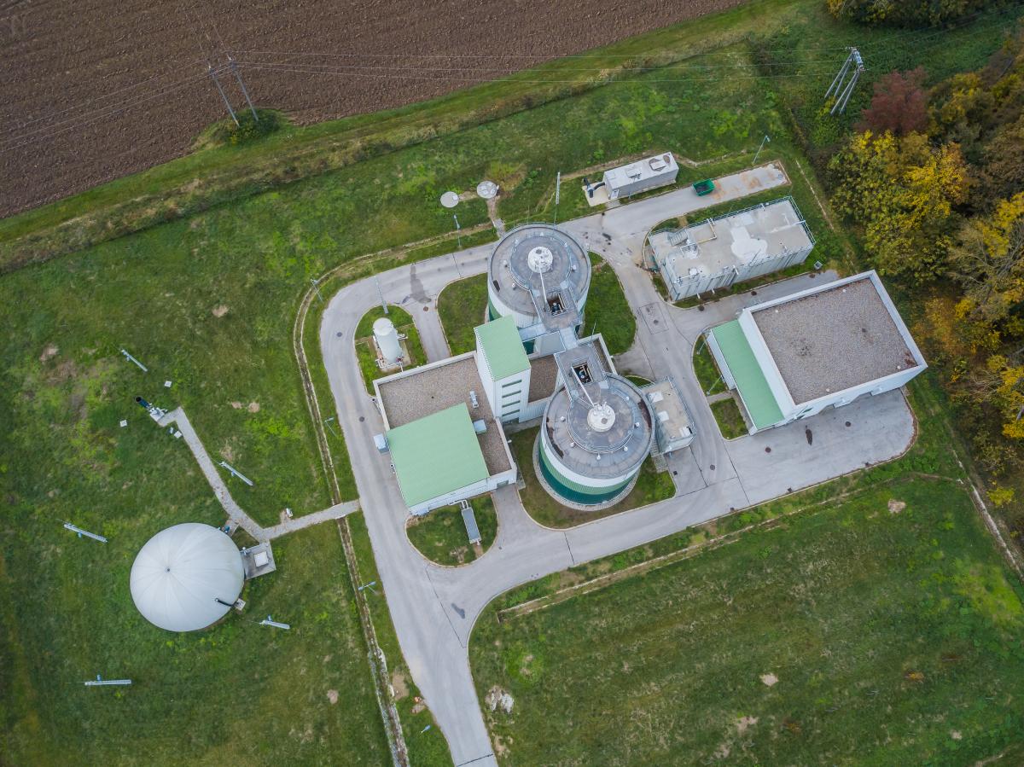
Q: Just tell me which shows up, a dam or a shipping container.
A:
shipping container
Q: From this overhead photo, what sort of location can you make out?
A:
industrial area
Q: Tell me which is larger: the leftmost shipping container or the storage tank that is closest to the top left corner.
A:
the shipping container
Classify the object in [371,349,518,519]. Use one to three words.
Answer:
building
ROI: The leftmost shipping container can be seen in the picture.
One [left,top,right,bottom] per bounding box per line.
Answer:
[601,152,680,205]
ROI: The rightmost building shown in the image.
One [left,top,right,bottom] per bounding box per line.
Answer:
[707,268,928,436]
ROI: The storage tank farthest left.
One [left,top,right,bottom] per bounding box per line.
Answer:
[374,325,406,372]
